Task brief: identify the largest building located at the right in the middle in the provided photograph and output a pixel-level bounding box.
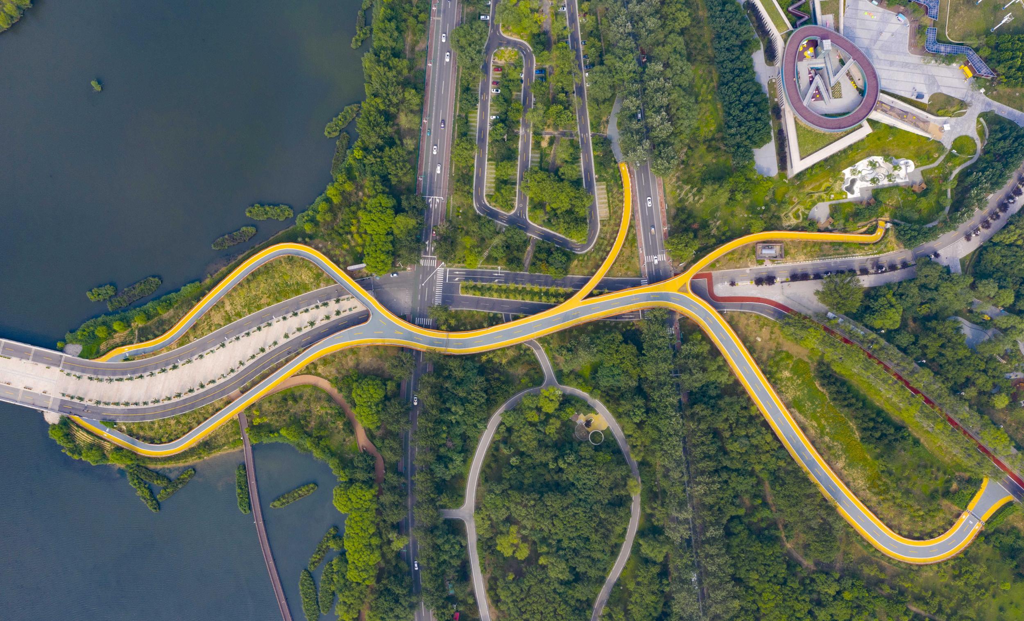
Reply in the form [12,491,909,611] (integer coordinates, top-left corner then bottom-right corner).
[754,243,784,260]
